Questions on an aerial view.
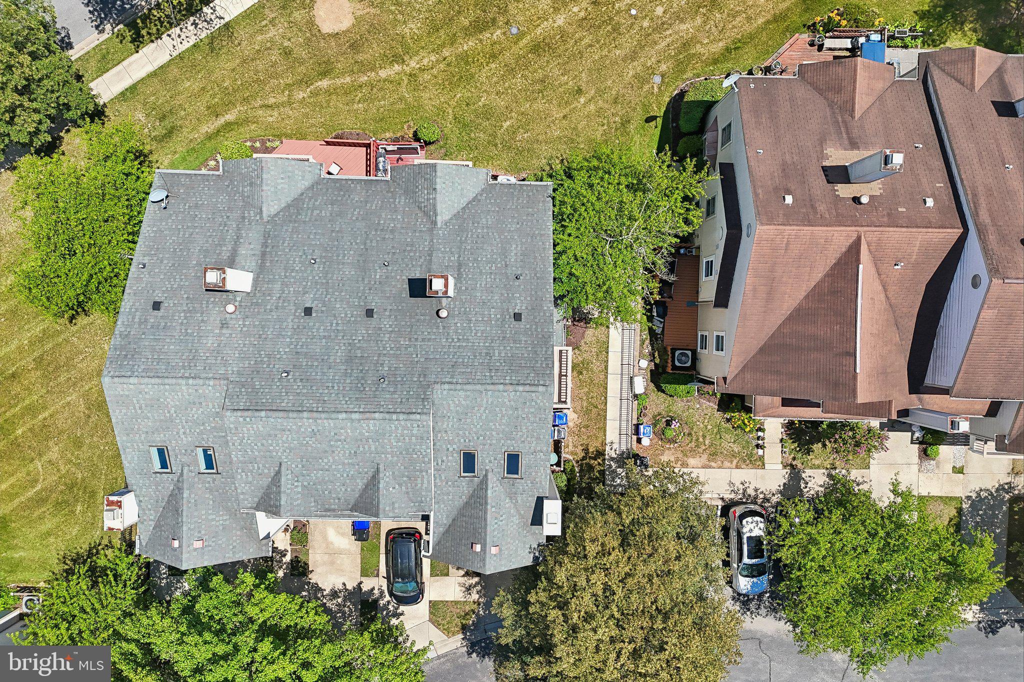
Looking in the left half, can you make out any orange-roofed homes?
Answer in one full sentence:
No, there is no orange-roofed home in the left half.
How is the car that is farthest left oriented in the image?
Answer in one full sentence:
In this picture, the car that is farthest left lies from top to bottom.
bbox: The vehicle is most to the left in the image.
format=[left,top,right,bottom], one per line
[387,527,426,605]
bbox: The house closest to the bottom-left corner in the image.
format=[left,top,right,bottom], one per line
[102,152,572,574]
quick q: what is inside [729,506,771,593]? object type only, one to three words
car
